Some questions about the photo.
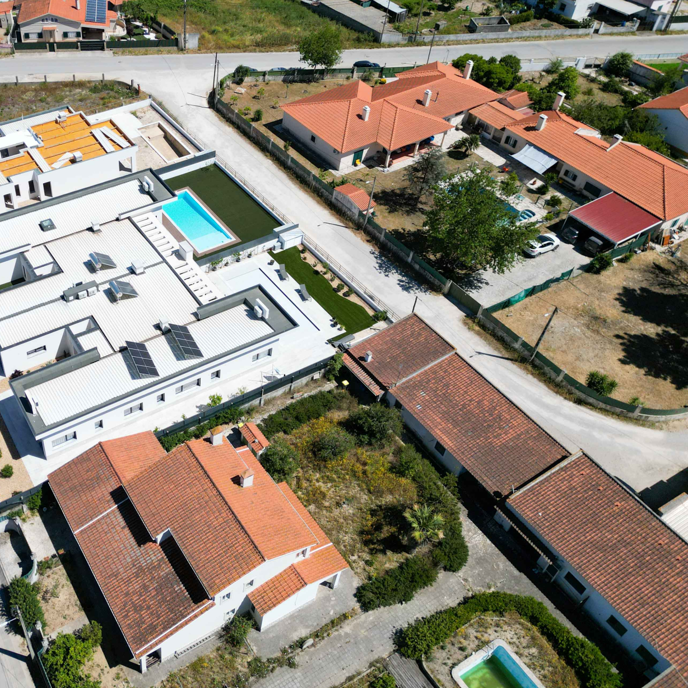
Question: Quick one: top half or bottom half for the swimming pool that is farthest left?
top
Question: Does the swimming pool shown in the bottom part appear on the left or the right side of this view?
right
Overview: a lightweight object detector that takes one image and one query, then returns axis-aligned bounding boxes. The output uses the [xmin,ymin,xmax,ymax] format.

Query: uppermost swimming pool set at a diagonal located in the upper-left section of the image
[137,123,190,161]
